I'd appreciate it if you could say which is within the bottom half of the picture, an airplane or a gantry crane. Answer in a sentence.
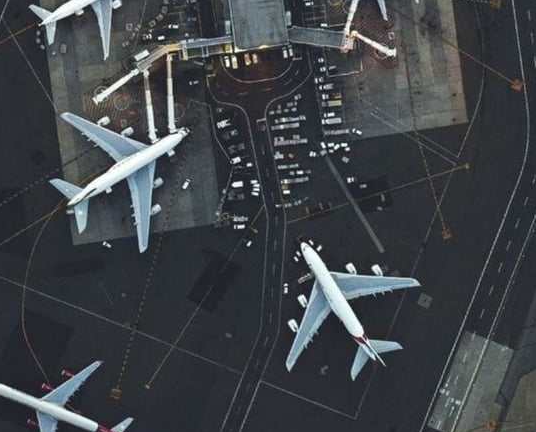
The one visible within the bottom half of the picture is an airplane.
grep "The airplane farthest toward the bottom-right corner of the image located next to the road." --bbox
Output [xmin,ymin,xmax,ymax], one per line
[286,243,429,379]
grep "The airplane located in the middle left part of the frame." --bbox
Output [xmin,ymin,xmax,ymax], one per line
[50,114,187,256]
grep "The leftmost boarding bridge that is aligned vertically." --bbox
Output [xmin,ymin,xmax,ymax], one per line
[142,69,157,144]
